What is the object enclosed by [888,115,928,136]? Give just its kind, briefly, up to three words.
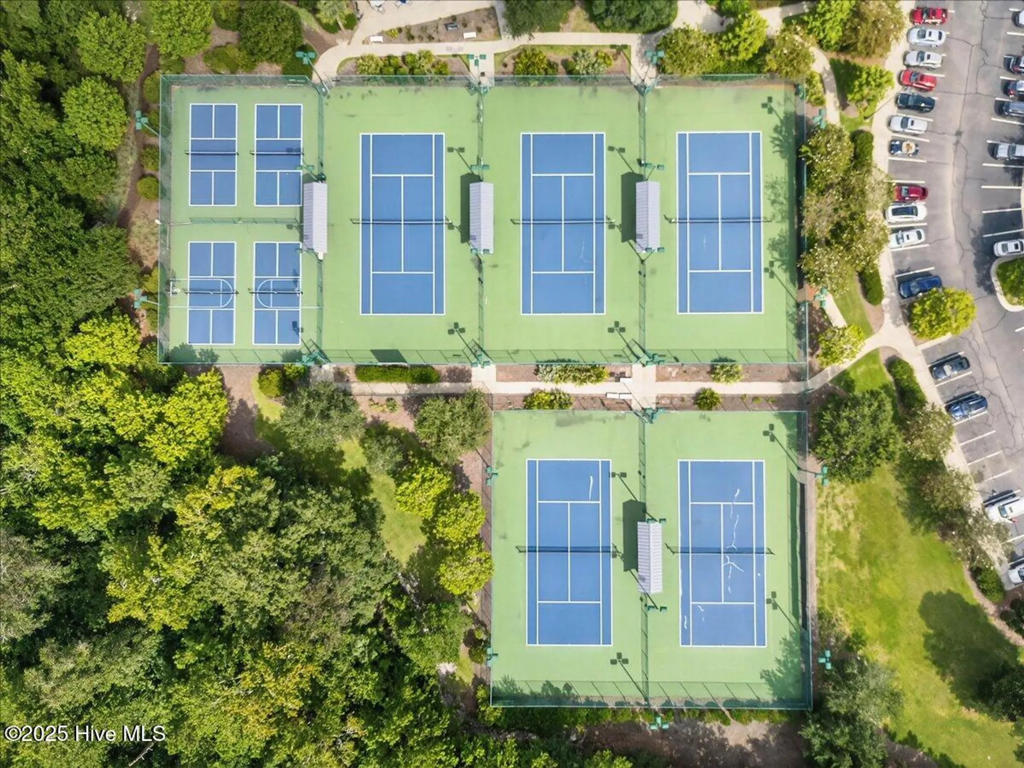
car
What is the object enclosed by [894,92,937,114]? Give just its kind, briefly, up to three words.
truck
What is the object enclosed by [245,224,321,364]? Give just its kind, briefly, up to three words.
sports court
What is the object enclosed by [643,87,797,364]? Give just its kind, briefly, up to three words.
tennis court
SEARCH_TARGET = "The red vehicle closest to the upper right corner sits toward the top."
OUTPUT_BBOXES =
[909,5,949,27]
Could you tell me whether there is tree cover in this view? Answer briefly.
Yes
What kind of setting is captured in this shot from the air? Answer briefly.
sports ground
